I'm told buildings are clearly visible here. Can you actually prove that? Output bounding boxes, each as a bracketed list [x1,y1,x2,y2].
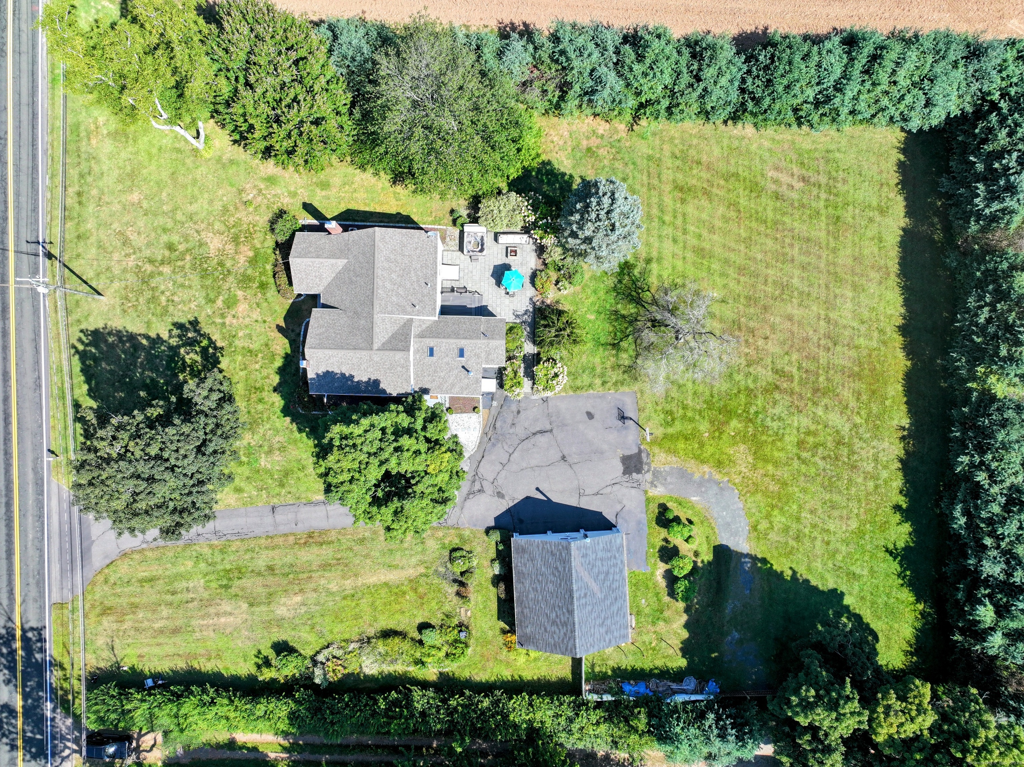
[510,525,632,657]
[290,220,506,398]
